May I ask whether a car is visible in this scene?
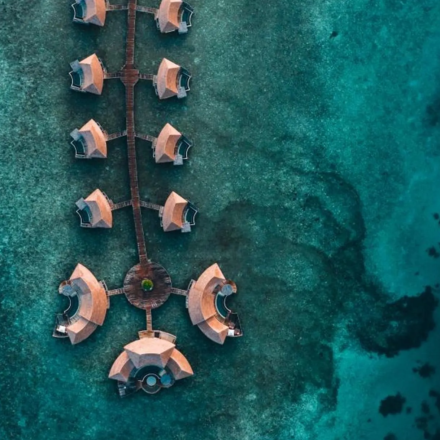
No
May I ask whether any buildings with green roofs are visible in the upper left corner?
No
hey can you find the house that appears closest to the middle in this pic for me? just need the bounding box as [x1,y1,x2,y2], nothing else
[158,191,199,232]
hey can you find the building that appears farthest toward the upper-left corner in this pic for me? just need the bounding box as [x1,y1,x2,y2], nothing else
[71,0,111,28]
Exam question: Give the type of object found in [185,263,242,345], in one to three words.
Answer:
house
